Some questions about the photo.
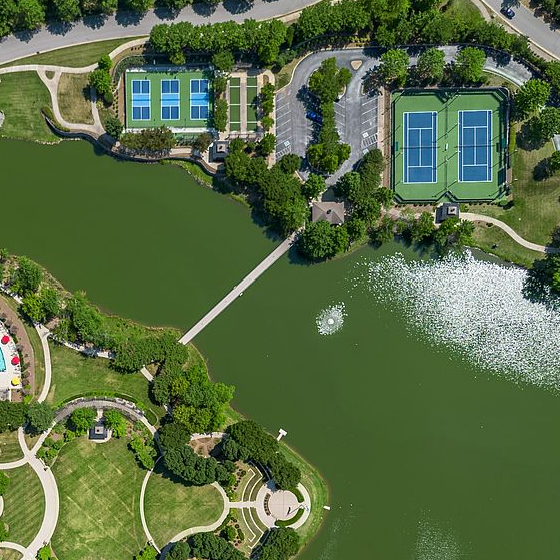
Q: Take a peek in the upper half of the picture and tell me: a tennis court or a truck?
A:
tennis court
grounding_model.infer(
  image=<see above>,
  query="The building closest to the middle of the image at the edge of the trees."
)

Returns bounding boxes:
[309,202,344,228]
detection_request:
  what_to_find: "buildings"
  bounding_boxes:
[309,202,344,228]
[208,140,230,166]
[431,203,461,227]
[89,419,109,439]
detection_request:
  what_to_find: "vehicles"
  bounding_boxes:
[307,111,322,122]
[501,6,514,19]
